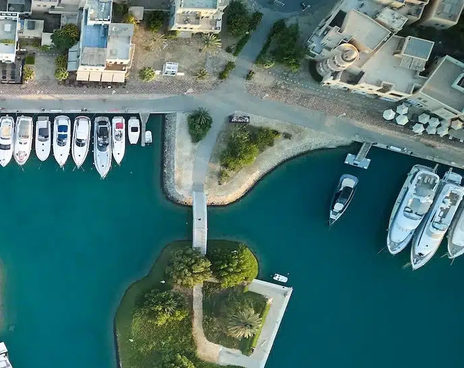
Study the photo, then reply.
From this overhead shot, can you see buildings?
Yes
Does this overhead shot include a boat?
Yes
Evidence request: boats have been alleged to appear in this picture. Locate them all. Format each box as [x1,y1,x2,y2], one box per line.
[272,273,288,282]
[13,113,33,175]
[92,114,113,179]
[326,166,360,234]
[411,164,464,271]
[34,115,52,160]
[126,118,140,144]
[112,115,126,166]
[146,130,152,145]
[447,188,464,259]
[389,159,440,255]
[71,114,91,176]
[0,353,13,368]
[52,114,72,172]
[0,114,14,171]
